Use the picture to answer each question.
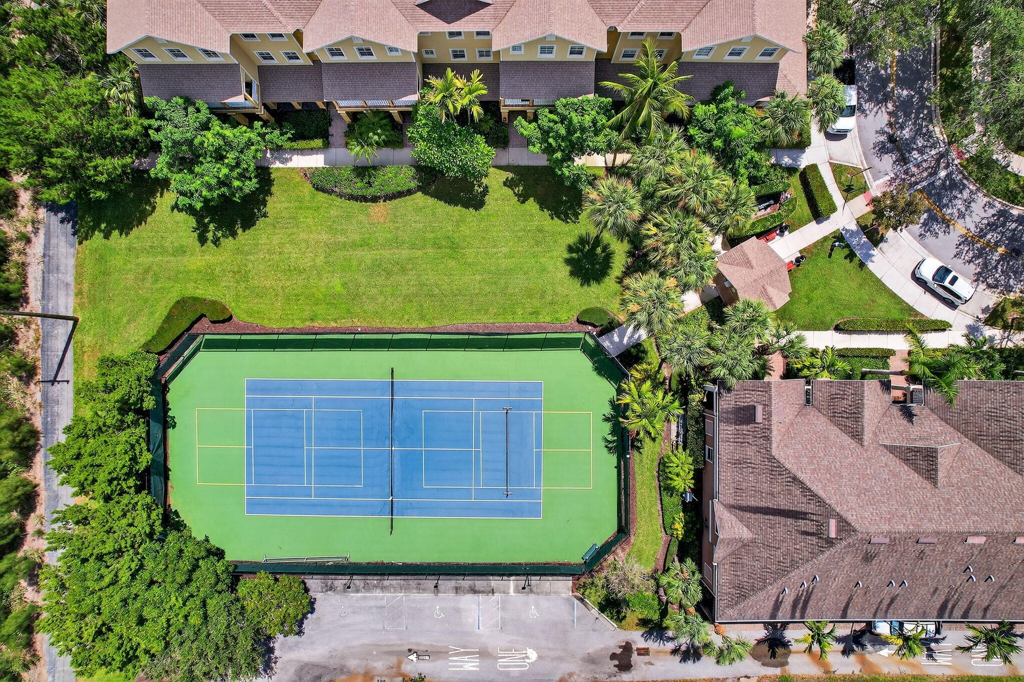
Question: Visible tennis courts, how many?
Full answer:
The picture shows 1 tennis court.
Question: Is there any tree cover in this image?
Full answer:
Yes, some tree cover is visible.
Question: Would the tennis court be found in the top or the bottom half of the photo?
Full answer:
It is in the bottom half that the tennis court appears.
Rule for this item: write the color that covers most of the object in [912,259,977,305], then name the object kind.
white car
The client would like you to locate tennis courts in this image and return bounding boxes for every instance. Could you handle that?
[168,333,622,562]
